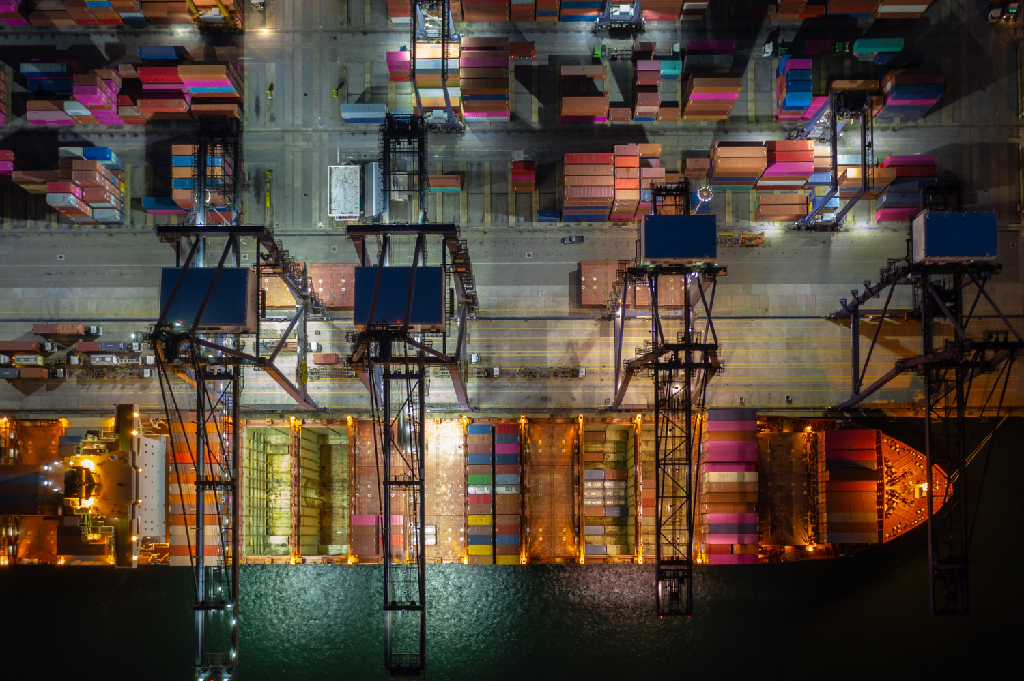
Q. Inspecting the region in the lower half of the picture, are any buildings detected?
No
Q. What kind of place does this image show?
port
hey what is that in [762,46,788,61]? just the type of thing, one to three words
vehicle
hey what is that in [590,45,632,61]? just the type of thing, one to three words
vehicle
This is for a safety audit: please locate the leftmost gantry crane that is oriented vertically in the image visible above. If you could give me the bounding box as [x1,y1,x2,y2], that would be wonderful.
[131,110,341,679]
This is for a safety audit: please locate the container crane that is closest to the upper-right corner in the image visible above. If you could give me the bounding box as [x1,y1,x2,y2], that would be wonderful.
[791,80,872,227]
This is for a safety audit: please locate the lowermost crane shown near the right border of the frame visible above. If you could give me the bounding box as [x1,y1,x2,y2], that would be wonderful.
[815,163,1024,617]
